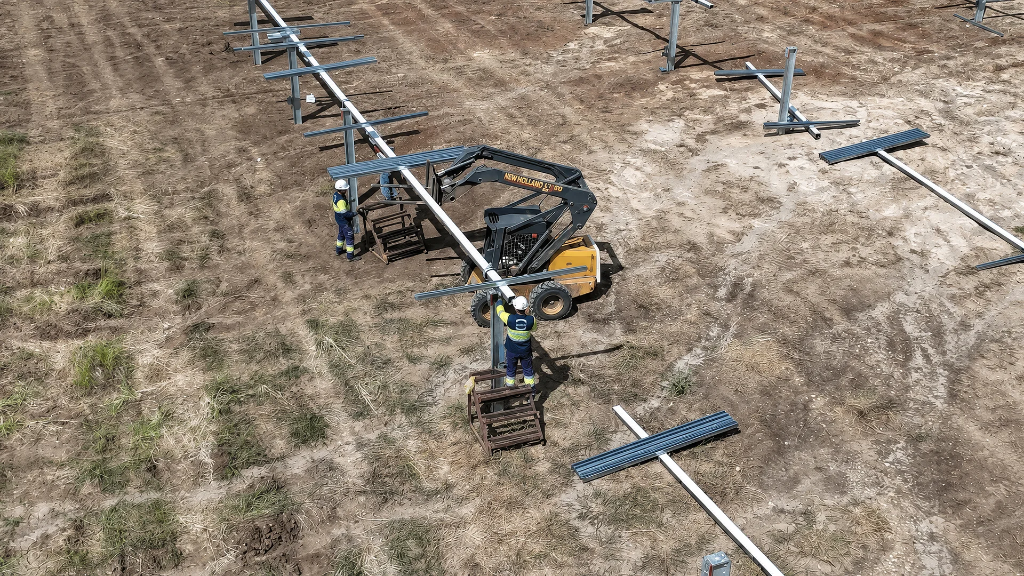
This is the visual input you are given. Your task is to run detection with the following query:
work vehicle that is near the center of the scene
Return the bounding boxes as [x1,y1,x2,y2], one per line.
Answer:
[372,142,601,328]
